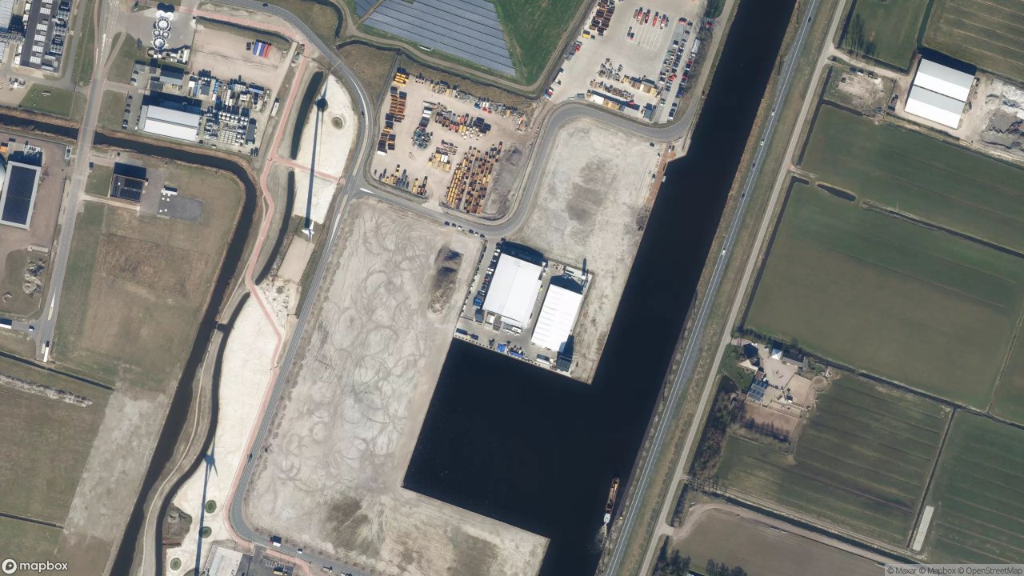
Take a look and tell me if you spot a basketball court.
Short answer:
No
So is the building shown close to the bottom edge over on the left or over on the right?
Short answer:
left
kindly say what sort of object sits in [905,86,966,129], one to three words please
barn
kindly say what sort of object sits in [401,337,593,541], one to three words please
harbor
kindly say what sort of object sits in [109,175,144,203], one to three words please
shed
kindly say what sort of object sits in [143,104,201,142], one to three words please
building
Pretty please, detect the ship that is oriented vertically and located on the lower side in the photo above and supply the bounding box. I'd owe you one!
[603,478,618,525]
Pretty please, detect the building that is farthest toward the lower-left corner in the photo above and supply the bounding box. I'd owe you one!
[203,546,242,576]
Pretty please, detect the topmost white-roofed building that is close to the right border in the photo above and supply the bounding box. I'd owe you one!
[914,58,975,102]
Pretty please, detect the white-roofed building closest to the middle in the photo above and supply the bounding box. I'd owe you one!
[483,253,543,323]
